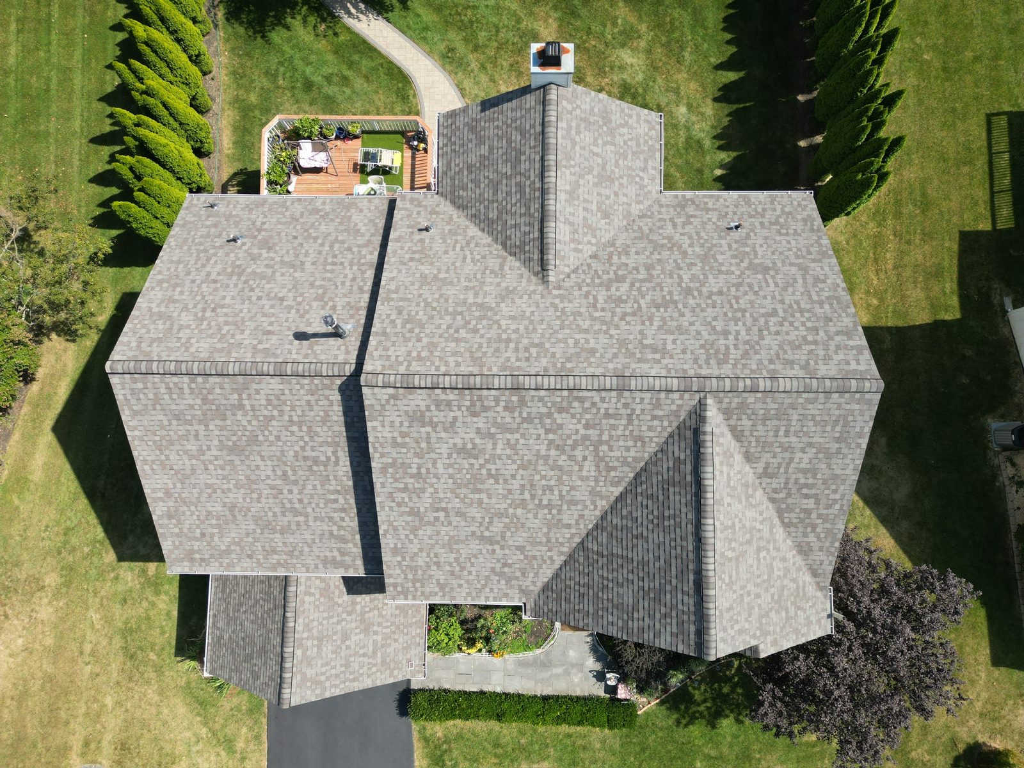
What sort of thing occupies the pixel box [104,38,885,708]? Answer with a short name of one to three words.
house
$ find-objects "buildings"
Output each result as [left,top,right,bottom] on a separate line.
[1003,297,1024,387]
[104,38,885,708]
